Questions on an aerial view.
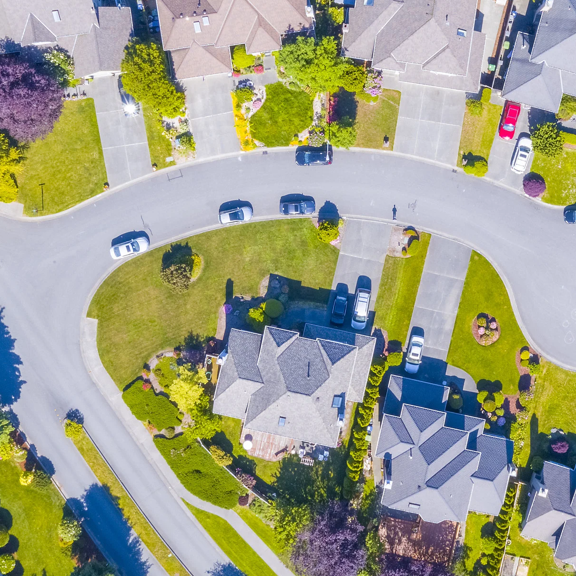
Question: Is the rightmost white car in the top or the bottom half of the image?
top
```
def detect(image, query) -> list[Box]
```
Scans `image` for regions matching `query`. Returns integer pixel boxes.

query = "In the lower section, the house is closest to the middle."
[213,323,376,449]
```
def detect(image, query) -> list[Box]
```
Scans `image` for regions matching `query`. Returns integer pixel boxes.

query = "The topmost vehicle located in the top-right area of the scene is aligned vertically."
[499,100,521,140]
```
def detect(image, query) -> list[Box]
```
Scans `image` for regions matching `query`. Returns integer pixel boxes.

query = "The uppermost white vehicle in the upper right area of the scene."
[510,134,534,175]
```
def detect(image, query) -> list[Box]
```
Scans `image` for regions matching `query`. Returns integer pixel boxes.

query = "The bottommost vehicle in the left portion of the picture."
[107,236,152,261]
